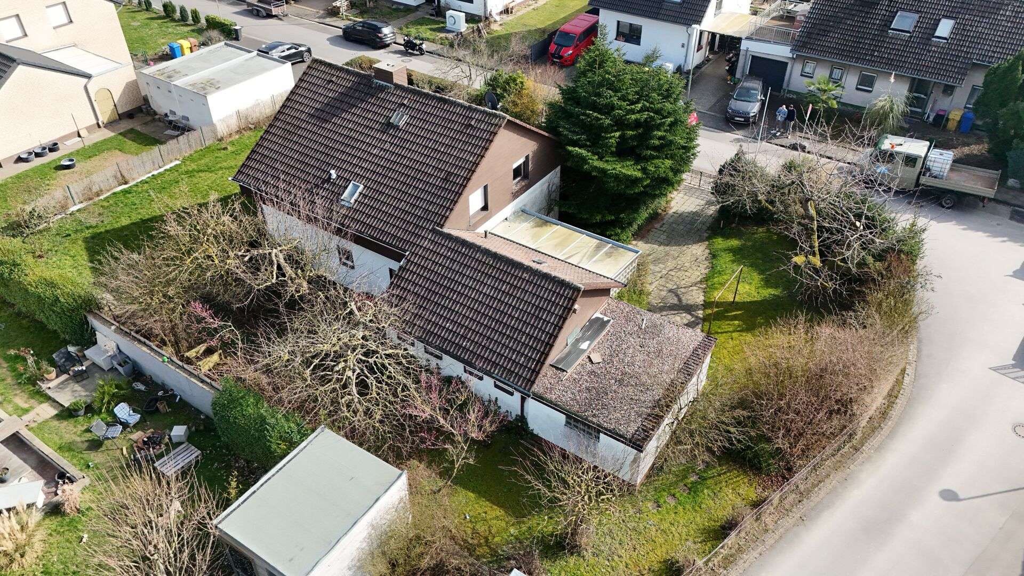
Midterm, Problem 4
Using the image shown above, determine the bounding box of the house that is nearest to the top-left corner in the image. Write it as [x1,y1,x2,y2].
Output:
[0,0,148,164]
